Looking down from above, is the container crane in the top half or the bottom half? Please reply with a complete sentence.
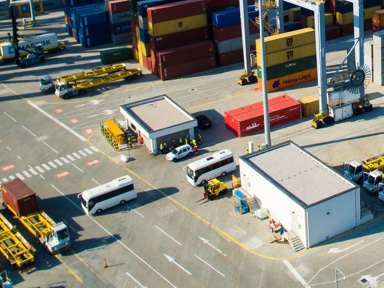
You can find the container crane in the top half.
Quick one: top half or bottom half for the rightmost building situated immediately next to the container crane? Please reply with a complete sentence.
The rightmost building situated immediately next to the container crane sits in the bottom half of the picture.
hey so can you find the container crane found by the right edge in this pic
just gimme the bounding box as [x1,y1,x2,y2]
[237,0,383,129]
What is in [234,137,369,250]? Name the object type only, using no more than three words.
building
